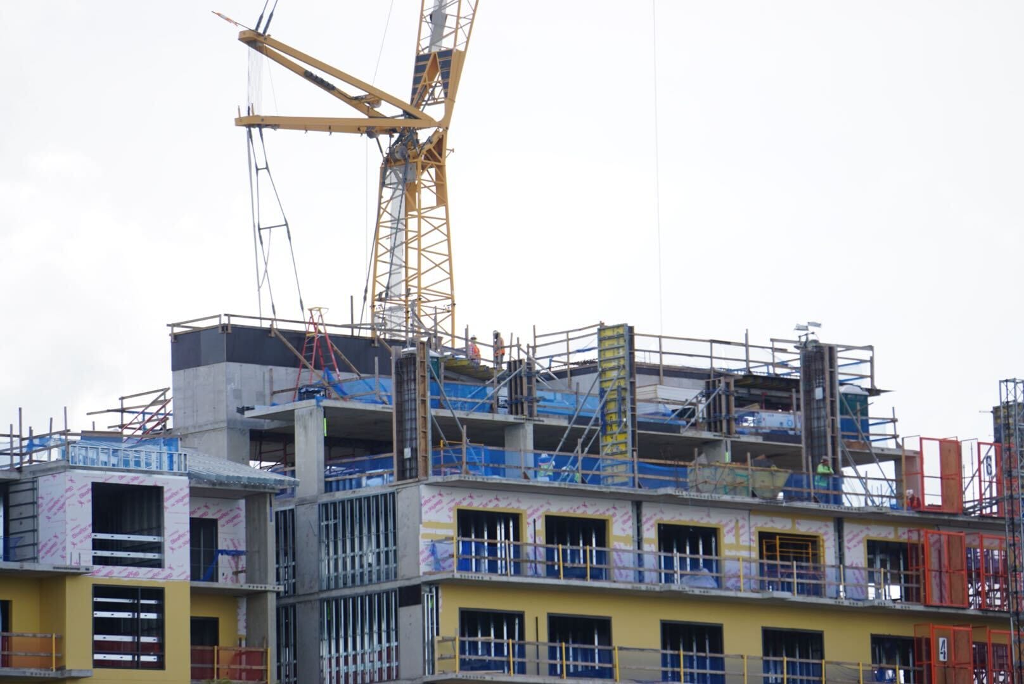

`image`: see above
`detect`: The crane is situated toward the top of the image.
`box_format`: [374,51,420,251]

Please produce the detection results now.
[211,0,481,347]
